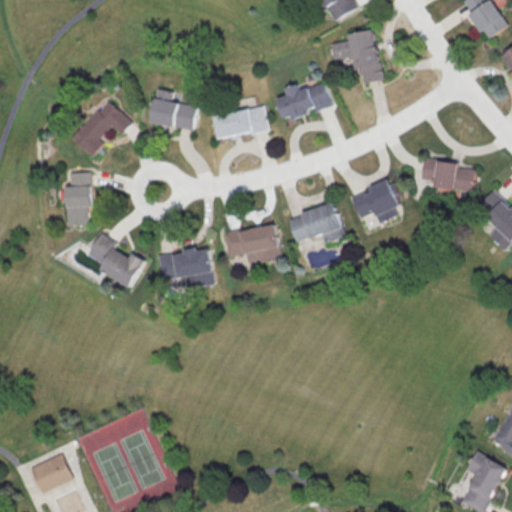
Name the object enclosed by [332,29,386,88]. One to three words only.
house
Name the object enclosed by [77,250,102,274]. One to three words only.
swimming pool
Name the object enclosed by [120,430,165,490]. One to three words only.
tennis court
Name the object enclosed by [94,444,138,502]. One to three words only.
tennis court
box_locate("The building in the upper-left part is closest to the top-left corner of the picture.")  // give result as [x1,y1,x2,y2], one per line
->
[75,102,132,156]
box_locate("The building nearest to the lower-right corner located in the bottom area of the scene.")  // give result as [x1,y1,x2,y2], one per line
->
[463,450,508,512]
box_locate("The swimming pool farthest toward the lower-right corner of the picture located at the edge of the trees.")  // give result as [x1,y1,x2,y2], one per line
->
[308,250,338,267]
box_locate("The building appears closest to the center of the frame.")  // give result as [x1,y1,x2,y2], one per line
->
[226,225,281,264]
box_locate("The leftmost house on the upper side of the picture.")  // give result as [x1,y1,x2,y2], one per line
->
[62,172,94,227]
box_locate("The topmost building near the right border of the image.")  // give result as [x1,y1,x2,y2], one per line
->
[465,0,508,38]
